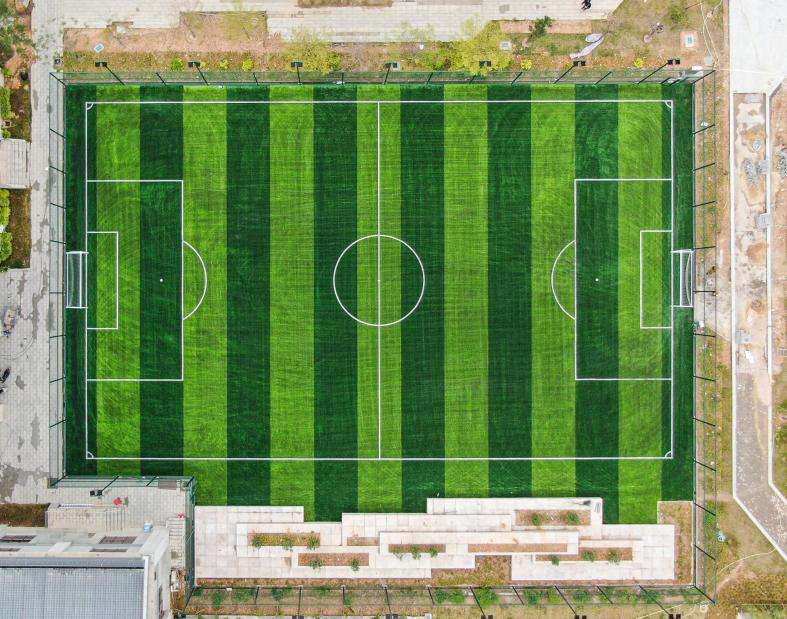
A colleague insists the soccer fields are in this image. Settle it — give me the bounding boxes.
[66,84,693,524]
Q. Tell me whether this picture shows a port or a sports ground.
sports ground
